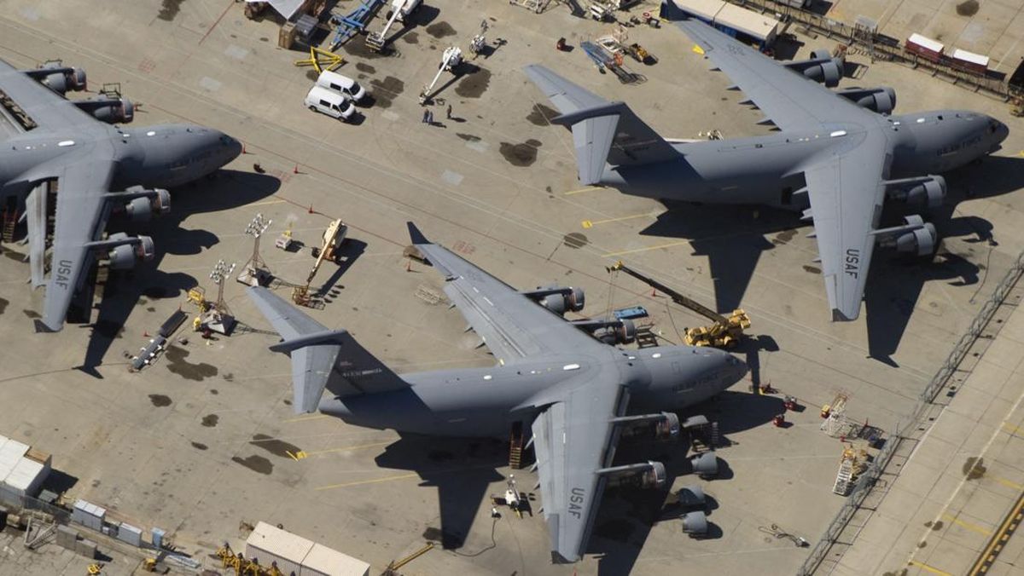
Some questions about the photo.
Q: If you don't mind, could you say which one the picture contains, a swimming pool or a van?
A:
van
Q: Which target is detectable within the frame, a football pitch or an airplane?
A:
airplane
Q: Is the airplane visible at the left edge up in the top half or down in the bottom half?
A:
top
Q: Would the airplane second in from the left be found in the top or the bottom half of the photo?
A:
bottom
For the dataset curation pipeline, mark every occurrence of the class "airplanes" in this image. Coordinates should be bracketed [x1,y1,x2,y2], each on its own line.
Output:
[519,0,1007,323]
[0,58,244,334]
[241,222,749,565]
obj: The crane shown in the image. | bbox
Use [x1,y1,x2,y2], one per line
[608,259,752,353]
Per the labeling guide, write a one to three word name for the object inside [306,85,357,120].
van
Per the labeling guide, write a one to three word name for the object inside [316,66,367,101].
van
